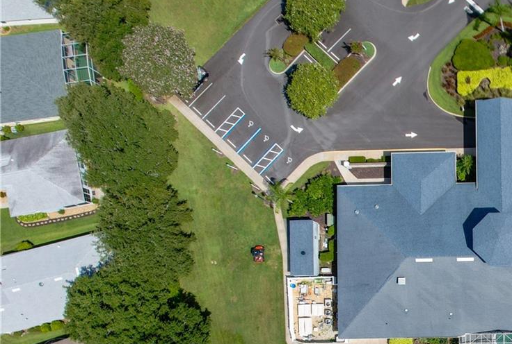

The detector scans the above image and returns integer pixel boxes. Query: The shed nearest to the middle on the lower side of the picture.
[289,219,322,276]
